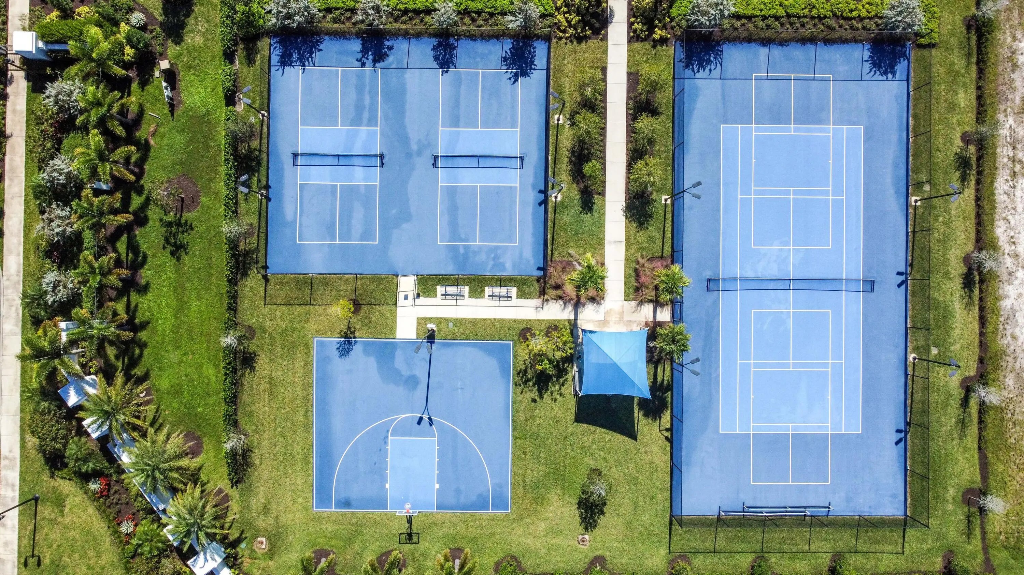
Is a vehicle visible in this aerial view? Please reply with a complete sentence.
No, the picture doesn't show any vehicle.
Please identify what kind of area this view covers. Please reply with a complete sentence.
The picture captures a sports ground.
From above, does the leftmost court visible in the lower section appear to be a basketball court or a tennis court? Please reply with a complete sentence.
The leftmost court visible in the lower section appears to be a basketball court.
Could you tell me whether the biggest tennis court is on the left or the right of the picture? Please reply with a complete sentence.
The biggest tennis court sits on the right side.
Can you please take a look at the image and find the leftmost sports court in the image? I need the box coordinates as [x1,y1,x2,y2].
[297,67,380,243]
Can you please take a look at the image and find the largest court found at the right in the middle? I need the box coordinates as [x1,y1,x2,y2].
[672,41,911,516]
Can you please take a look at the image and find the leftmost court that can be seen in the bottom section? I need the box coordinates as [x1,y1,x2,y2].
[313,337,513,513]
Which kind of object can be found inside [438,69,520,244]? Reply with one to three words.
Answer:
sports court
